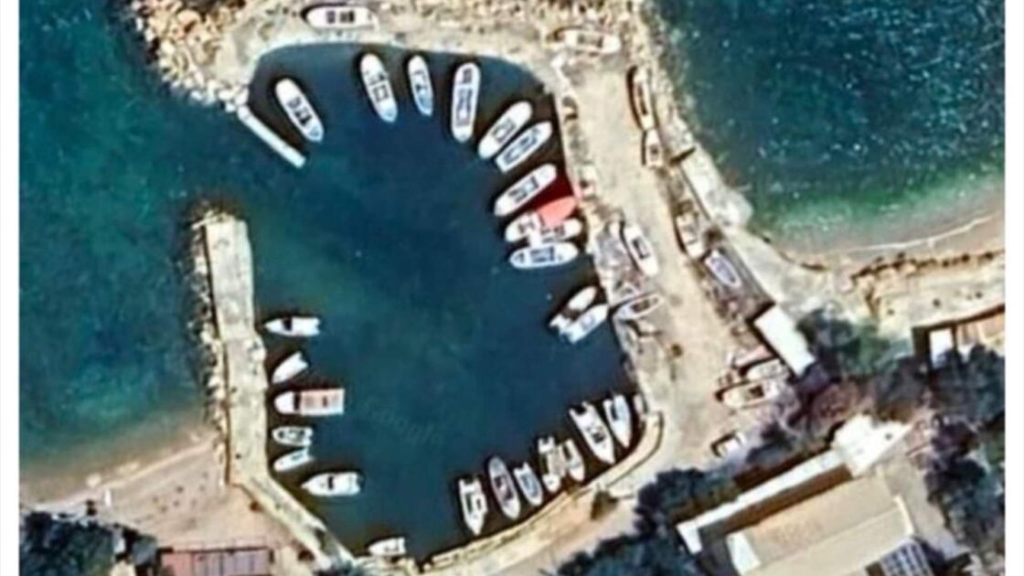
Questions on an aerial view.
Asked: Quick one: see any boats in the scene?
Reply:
Yes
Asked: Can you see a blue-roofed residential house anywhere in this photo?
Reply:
No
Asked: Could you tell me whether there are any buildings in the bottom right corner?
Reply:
Yes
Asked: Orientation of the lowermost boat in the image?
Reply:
from left to right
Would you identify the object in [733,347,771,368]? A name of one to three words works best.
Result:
boat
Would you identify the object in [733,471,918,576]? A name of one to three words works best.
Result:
house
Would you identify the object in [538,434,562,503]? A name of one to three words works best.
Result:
boat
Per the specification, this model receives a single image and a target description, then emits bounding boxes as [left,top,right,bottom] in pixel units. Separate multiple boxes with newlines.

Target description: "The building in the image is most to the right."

[914,305,1024,368]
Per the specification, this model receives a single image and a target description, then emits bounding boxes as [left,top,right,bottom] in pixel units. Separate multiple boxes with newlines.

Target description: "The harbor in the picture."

[237,35,662,576]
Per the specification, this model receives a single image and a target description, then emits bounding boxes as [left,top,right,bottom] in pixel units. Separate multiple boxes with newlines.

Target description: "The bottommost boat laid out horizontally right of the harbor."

[722,379,781,408]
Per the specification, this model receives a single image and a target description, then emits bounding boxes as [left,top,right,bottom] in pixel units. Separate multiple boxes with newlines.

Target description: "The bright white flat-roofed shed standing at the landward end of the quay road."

[756,305,819,376]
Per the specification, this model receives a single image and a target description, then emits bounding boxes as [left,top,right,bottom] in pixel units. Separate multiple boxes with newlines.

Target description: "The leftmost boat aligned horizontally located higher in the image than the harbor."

[306,4,377,28]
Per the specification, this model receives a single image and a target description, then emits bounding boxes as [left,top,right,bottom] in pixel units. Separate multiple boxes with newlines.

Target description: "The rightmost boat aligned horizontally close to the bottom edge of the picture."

[353,538,410,563]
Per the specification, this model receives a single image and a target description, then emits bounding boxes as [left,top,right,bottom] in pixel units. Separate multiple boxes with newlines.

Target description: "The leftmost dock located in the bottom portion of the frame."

[206,222,358,576]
